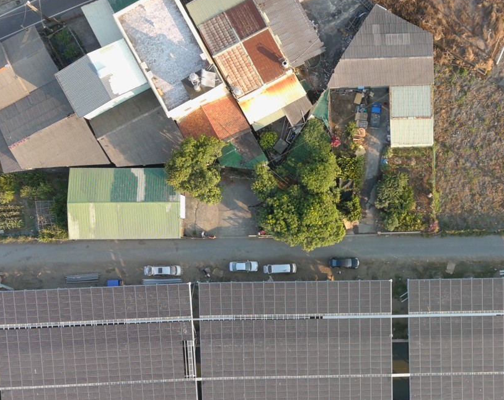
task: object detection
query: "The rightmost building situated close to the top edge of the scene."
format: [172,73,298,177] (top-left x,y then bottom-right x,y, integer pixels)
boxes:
[327,5,434,93]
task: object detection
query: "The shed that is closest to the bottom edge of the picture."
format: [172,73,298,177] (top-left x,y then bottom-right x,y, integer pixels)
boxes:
[67,168,191,239]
